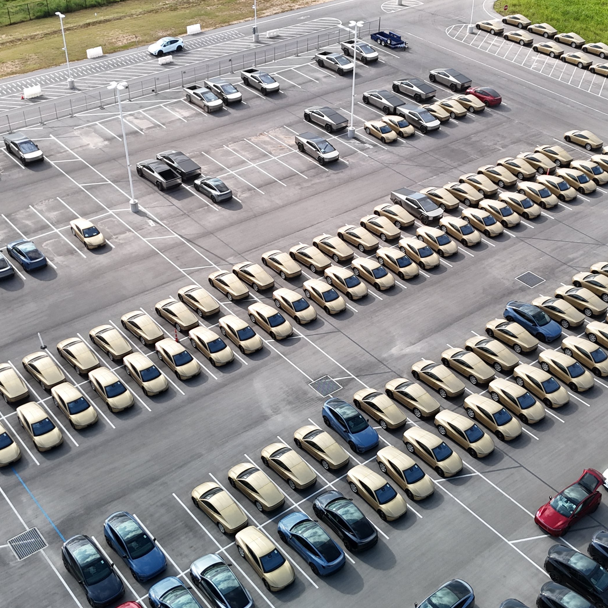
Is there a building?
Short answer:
No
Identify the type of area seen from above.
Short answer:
parking lot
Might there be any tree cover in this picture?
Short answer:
No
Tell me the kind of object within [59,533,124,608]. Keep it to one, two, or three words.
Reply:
car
